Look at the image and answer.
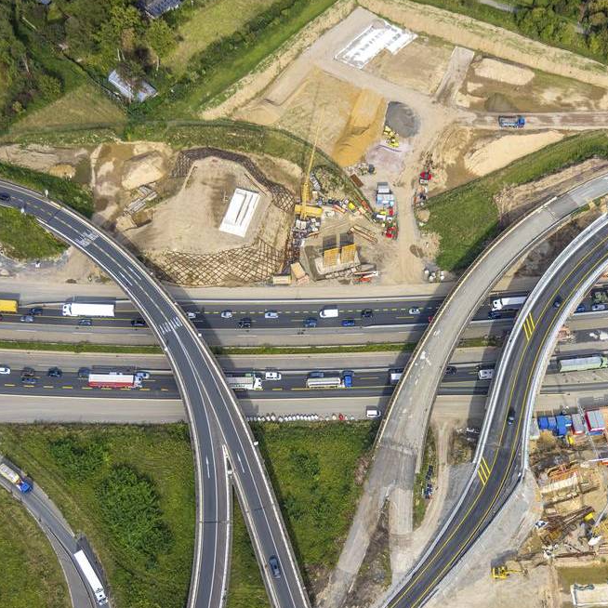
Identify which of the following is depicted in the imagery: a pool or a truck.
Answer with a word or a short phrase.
truck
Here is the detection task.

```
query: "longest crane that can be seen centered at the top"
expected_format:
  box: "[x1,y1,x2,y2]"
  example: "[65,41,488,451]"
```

[300,92,320,224]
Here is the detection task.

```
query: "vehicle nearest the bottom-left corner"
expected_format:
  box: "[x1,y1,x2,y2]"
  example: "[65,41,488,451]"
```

[72,548,109,608]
